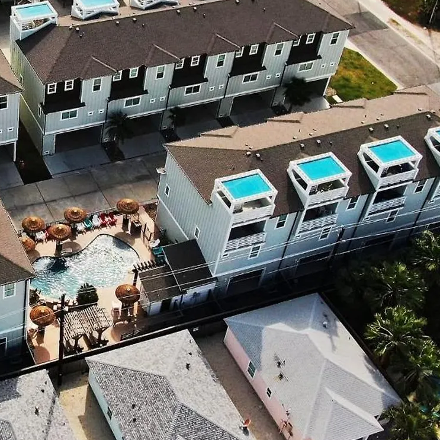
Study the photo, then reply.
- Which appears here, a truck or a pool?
pool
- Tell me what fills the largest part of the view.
buildings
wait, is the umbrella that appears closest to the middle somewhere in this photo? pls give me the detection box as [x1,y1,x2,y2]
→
[114,202,140,227]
